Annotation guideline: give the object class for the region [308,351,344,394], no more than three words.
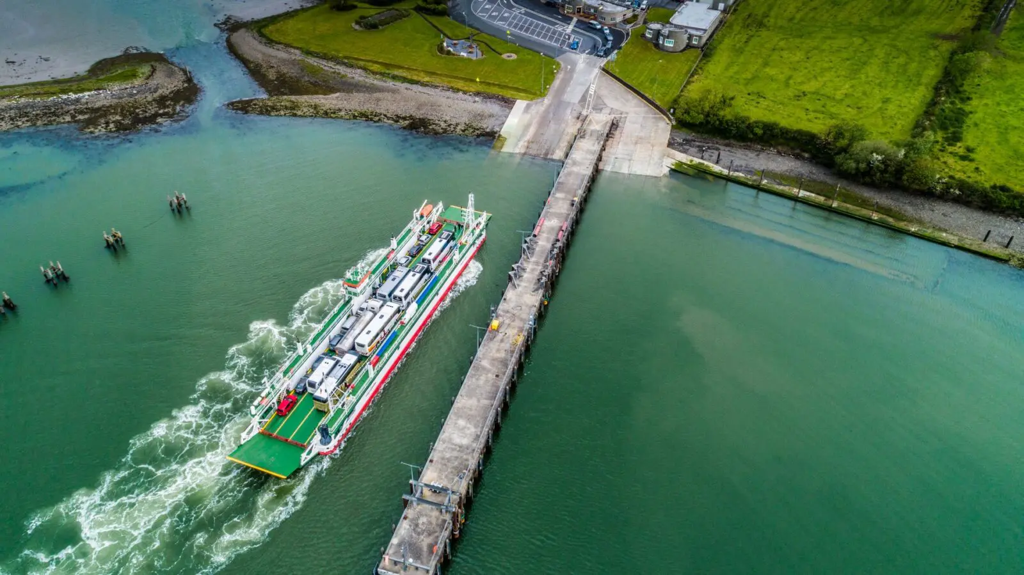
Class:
bus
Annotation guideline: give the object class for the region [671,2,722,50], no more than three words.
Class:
building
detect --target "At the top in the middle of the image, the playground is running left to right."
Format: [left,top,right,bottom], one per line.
[437,38,485,59]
